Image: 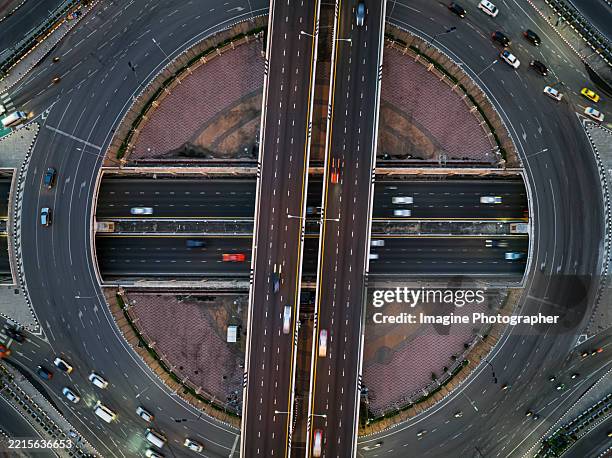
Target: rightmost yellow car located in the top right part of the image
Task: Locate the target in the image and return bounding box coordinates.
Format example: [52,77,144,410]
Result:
[578,85,602,103]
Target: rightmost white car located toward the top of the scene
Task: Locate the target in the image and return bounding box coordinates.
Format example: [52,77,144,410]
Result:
[582,105,605,123]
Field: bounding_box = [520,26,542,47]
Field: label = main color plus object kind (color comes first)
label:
black car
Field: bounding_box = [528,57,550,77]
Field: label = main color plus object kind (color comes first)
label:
black car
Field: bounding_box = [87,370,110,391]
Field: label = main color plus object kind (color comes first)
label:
white car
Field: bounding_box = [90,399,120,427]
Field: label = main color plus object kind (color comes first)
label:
white vehicle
